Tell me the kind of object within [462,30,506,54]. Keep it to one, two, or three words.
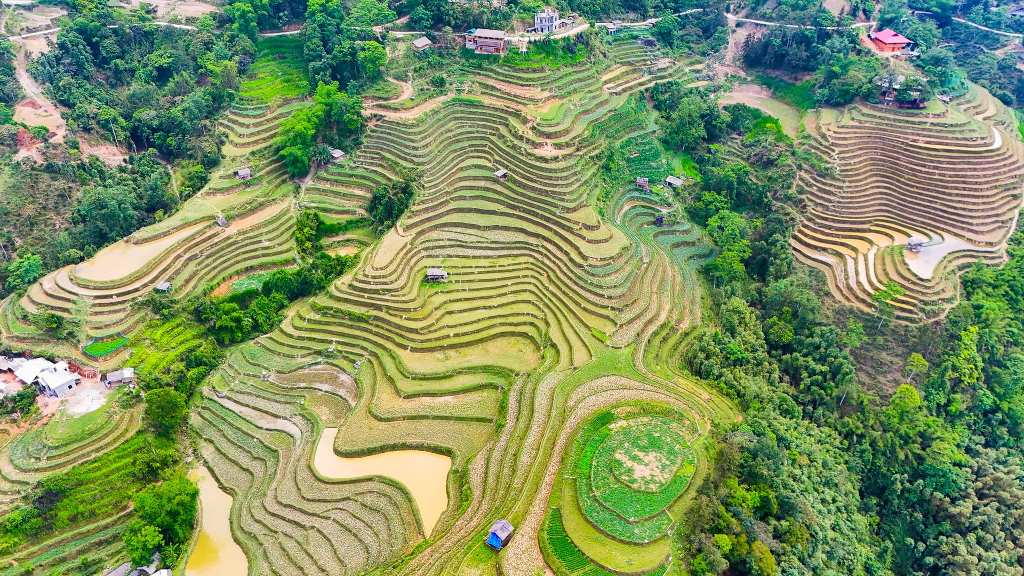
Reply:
house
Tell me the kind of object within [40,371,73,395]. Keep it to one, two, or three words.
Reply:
house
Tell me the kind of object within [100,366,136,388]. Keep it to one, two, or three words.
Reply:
shed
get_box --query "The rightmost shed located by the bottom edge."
[483,523,512,552]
